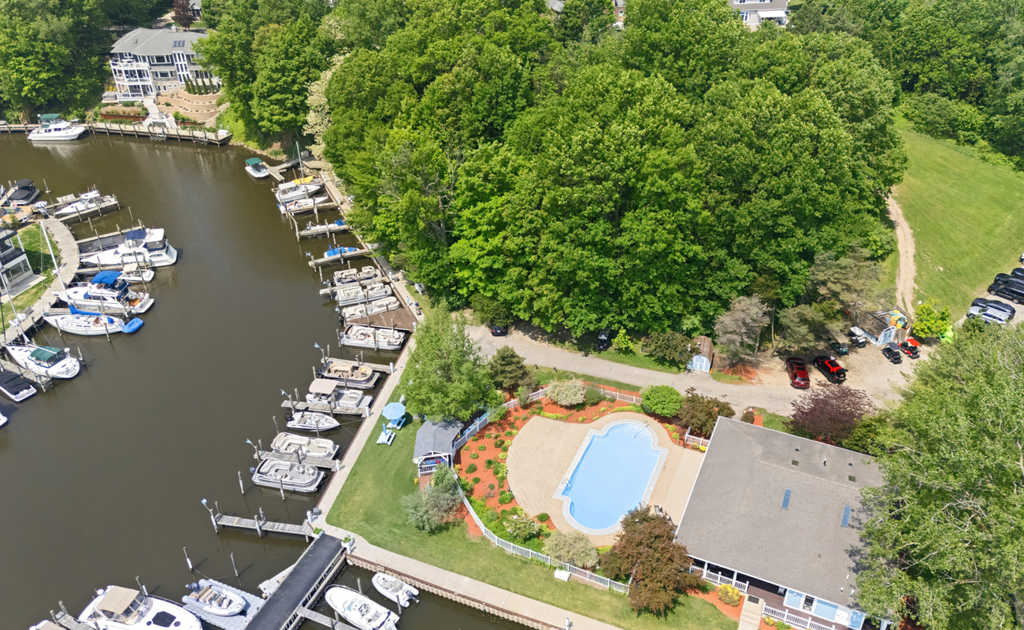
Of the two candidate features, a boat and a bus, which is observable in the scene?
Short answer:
boat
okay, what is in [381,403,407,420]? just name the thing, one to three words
umbrella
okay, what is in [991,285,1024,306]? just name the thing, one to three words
car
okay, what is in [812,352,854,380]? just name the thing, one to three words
car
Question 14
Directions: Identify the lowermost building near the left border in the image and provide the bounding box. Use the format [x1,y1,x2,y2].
[0,224,34,293]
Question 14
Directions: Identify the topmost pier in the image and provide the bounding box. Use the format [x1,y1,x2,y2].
[0,123,230,153]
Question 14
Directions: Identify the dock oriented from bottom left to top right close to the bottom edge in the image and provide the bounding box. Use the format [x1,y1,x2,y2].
[244,539,346,630]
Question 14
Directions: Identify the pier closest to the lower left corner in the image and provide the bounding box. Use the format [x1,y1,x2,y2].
[46,594,106,630]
